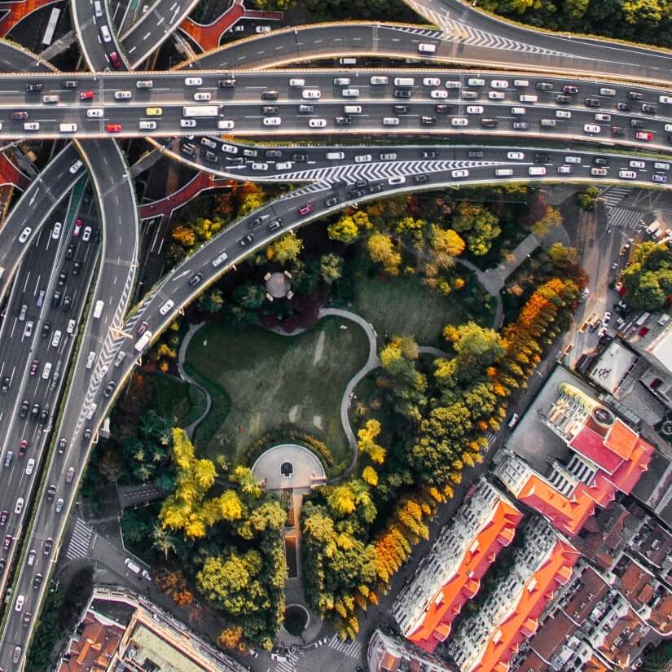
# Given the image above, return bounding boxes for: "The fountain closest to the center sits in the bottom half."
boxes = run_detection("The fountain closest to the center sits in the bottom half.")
[278,462,296,480]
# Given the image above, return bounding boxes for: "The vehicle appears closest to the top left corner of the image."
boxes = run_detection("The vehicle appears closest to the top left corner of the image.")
[44,10,61,42]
